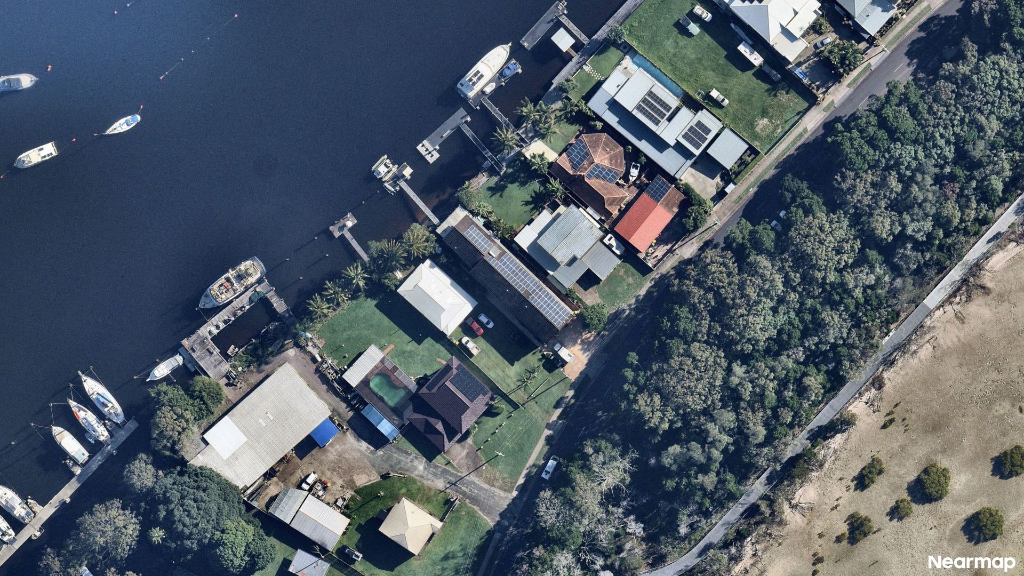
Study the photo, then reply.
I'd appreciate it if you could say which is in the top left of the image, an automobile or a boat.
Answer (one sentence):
Visible in the top left of the image is a boat.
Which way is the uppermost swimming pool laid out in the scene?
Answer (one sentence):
The uppermost swimming pool runs on a diagonal in the image.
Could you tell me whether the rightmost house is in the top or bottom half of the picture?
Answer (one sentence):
Seen from above, the rightmost house lies in the top half of the view.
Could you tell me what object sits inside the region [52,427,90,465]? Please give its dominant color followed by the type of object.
white boat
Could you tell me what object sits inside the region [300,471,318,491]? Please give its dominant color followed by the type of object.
white vehicle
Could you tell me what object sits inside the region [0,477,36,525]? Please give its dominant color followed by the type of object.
white boat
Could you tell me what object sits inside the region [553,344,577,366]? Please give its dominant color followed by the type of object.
white camper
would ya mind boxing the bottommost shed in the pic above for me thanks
[289,548,331,576]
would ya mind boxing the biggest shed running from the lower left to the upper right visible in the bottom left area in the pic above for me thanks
[189,362,331,489]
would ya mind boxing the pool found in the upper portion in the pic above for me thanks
[630,54,684,98]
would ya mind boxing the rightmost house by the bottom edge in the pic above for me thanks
[378,497,443,556]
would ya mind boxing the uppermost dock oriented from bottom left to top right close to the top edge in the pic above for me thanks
[520,1,567,50]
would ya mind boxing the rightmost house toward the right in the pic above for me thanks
[836,0,897,38]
